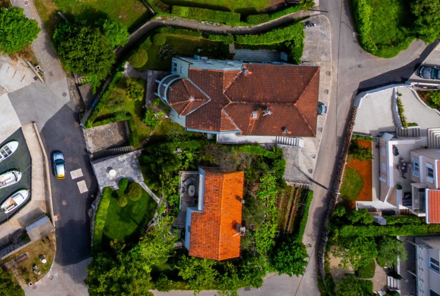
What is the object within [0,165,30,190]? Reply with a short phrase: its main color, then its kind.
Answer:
white boat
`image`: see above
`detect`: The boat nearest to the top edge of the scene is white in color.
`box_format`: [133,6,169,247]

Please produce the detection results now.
[0,142,18,163]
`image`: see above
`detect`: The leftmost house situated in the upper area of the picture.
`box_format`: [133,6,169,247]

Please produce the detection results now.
[152,50,320,144]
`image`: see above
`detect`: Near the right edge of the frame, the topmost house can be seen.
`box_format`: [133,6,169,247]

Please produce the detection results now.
[377,135,440,224]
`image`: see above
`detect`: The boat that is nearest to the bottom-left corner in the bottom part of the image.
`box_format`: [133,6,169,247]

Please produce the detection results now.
[0,191,30,221]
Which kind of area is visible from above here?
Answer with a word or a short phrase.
residential area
